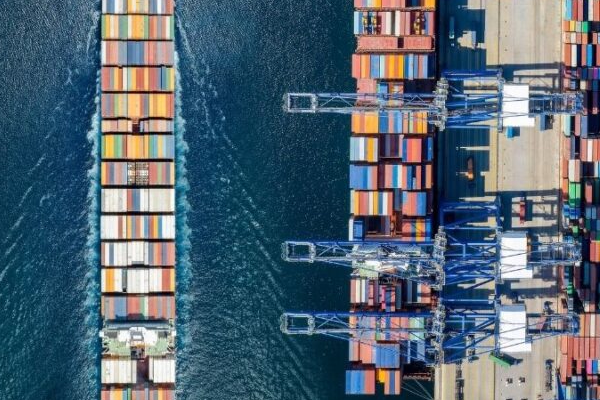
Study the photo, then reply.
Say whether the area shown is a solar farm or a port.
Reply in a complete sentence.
What you see here is a port.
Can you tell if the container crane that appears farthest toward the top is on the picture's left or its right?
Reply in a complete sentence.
You can find the container crane that appears farthest toward the top on the right side of the picture.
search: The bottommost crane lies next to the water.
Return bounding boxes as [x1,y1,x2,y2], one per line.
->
[285,294,581,356]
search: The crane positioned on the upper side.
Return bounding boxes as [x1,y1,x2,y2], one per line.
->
[286,71,583,133]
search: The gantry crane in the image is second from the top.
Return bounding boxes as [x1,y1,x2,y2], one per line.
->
[285,222,581,284]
